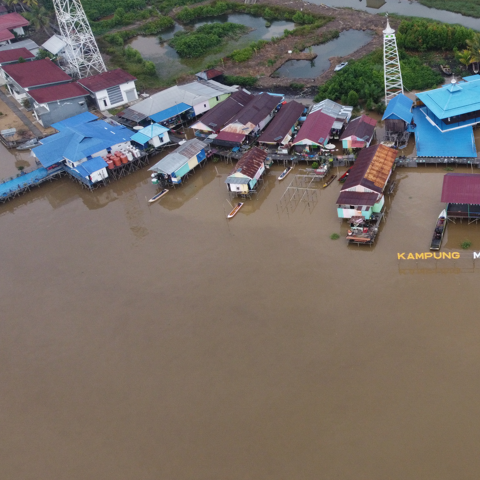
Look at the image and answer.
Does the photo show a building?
Yes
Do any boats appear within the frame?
Yes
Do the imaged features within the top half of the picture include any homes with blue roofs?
Yes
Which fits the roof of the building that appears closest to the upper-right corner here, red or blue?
blue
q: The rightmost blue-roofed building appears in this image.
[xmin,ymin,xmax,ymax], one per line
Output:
[415,65,480,135]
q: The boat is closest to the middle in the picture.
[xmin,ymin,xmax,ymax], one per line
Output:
[227,201,245,219]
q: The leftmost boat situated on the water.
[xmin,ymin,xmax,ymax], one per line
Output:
[147,190,170,203]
